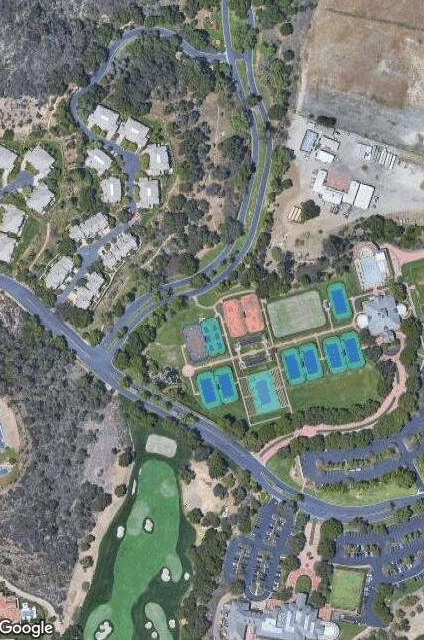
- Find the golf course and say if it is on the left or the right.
left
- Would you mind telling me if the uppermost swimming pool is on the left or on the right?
right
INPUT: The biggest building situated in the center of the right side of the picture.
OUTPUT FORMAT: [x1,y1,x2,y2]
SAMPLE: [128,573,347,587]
[360,292,405,342]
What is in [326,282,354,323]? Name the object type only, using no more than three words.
tennis court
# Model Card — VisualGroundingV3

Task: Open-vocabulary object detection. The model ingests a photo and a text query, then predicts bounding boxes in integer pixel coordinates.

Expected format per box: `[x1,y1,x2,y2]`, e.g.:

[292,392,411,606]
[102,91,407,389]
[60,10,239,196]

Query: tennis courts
[299,342,324,380]
[322,336,348,373]
[195,371,221,409]
[280,347,306,385]
[326,282,354,323]
[213,366,239,405]
[240,295,265,332]
[341,330,366,368]
[247,369,280,415]
[184,323,208,362]
[223,300,247,336]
